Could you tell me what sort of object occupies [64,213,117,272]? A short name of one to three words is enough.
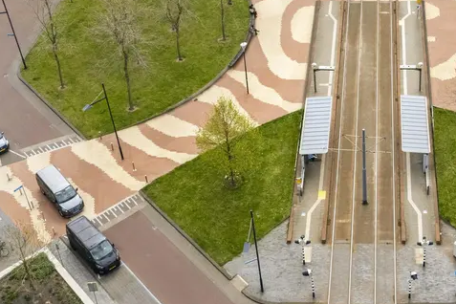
van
